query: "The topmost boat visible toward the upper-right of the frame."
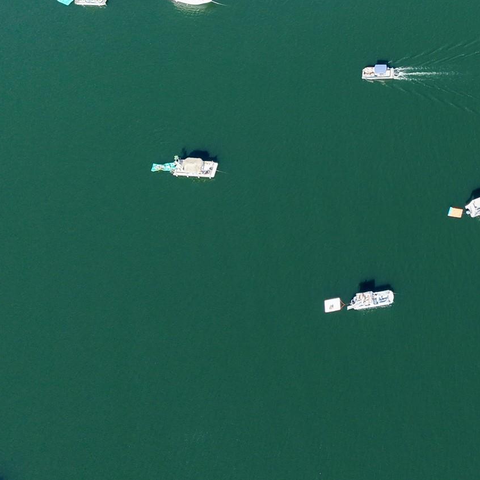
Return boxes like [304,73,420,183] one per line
[362,65,397,79]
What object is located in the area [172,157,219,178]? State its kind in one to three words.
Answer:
boat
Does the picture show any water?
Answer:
Yes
